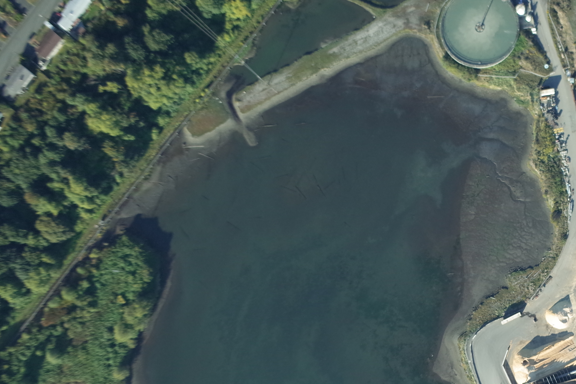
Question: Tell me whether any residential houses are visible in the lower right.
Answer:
No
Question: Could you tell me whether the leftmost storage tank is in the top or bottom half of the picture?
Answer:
top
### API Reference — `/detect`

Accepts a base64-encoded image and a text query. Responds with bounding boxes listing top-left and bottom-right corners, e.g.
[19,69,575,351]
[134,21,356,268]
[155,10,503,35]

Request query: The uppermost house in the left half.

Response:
[56,0,95,32]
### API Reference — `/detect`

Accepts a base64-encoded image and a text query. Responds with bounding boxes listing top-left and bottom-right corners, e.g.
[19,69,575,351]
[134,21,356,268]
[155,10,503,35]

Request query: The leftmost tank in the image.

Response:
[441,0,520,69]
